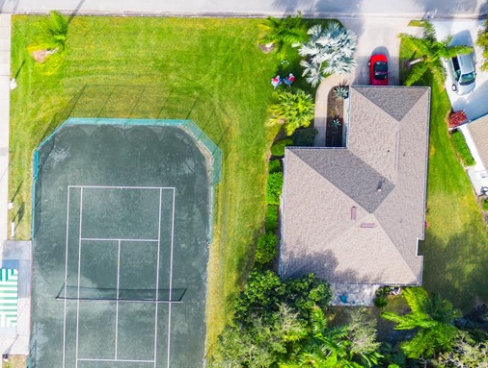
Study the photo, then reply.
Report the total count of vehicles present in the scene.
2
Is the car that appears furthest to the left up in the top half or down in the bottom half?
top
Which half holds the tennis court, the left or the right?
left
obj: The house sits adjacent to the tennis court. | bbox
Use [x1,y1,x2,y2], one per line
[273,83,431,288]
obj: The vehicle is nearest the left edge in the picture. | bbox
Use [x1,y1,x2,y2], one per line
[368,53,392,84]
